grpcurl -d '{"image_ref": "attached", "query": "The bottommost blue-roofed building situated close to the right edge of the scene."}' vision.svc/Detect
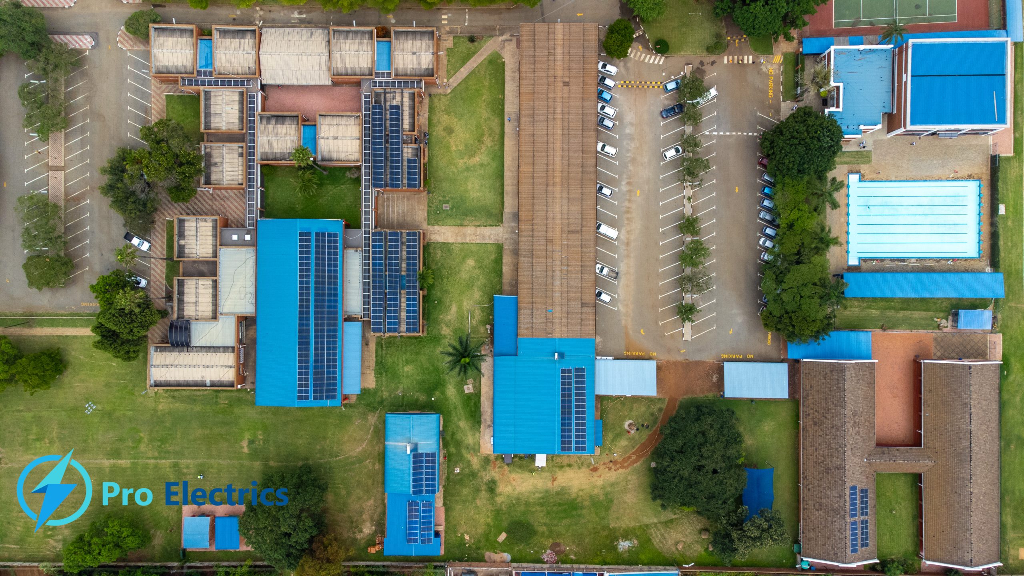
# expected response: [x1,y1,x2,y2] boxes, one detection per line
[951,310,993,329]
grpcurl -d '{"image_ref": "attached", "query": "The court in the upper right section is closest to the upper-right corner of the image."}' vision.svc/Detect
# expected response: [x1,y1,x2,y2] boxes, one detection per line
[805,0,990,37]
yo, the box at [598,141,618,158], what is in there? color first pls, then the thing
white car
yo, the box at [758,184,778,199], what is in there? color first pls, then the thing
blue car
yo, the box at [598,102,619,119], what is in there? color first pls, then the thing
white car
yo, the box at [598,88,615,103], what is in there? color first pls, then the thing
blue car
